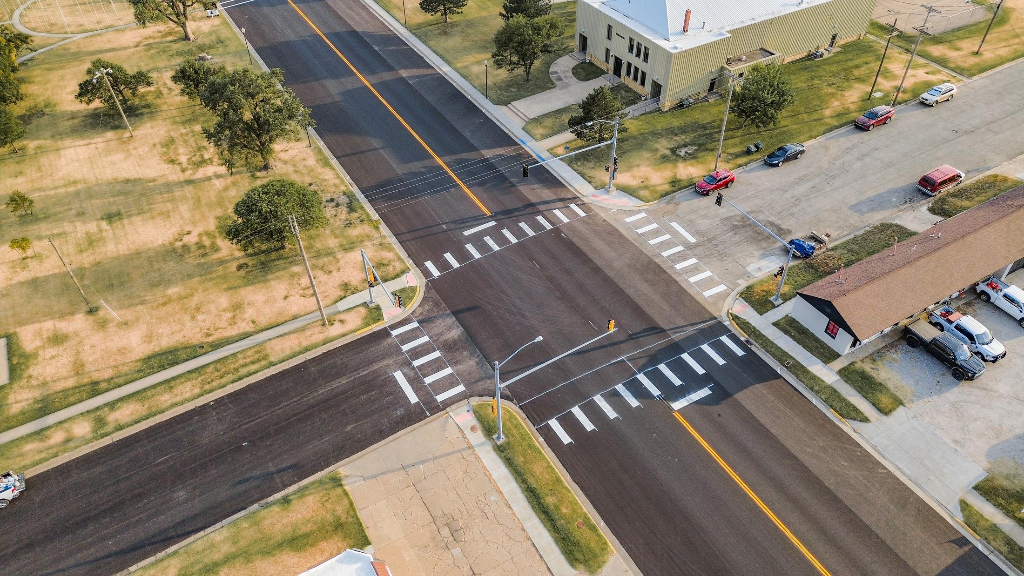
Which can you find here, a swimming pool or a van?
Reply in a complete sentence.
The one in the frame is a van.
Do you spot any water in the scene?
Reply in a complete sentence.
No, there's no water in this view.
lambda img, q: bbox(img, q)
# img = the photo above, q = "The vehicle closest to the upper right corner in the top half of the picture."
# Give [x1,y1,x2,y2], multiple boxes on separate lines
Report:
[917,80,956,106]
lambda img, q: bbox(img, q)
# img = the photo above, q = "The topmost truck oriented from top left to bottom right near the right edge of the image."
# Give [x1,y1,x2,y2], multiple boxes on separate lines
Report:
[973,275,1024,327]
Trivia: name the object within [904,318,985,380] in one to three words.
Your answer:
truck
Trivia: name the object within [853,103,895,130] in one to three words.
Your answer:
car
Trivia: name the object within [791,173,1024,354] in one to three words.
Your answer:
house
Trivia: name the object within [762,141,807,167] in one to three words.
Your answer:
car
